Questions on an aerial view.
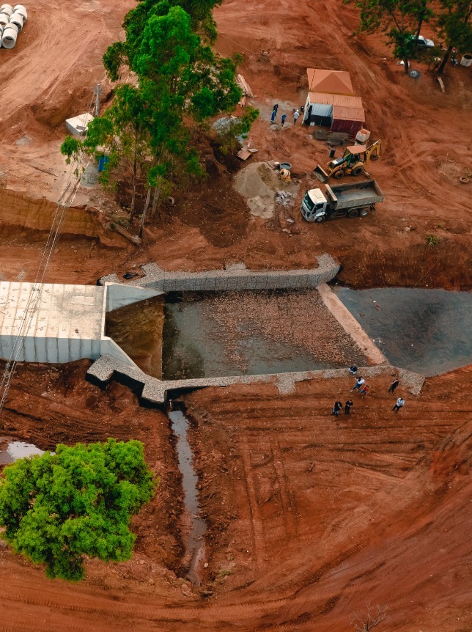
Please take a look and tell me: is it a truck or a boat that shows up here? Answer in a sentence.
I can see a truck in this picture.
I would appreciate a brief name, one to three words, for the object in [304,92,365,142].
shed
